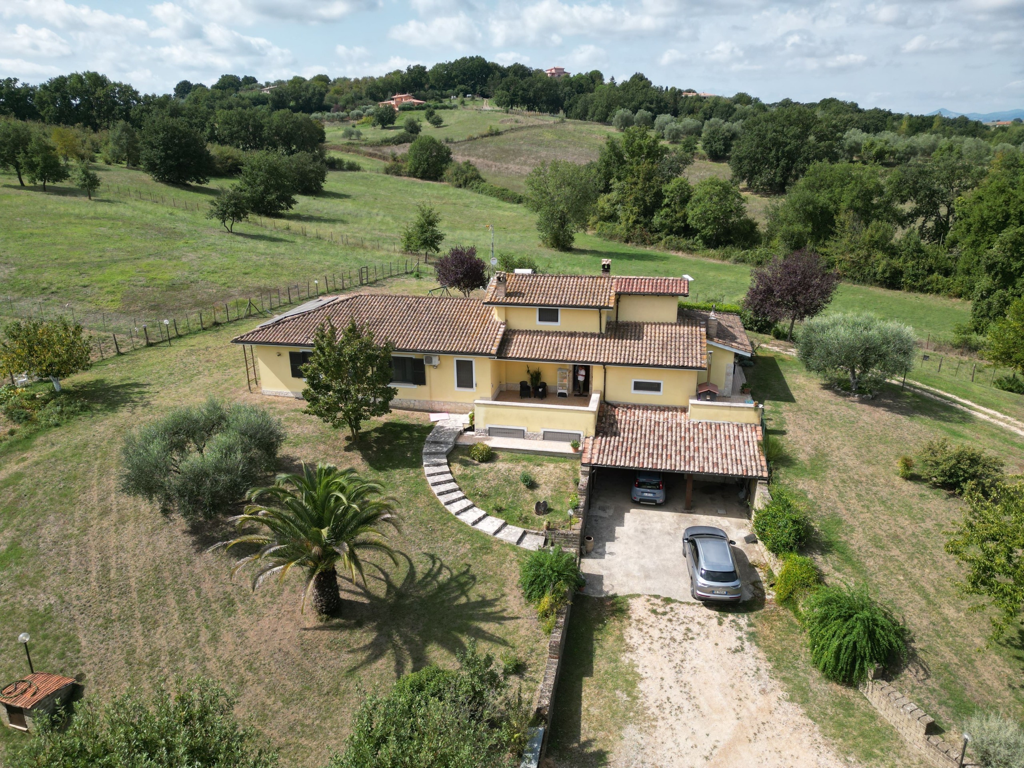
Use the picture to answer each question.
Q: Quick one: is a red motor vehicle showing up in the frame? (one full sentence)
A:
No, no red motor vehicle is visible in the view.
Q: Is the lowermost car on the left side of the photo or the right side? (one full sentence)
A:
It is on the right.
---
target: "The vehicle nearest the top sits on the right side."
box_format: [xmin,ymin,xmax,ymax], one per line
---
[630,472,665,505]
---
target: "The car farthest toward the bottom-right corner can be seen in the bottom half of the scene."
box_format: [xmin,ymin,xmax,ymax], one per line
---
[685,531,746,608]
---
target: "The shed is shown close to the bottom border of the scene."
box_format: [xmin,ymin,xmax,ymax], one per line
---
[0,670,70,738]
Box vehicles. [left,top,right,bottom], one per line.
[630,472,665,505]
[685,531,746,608]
